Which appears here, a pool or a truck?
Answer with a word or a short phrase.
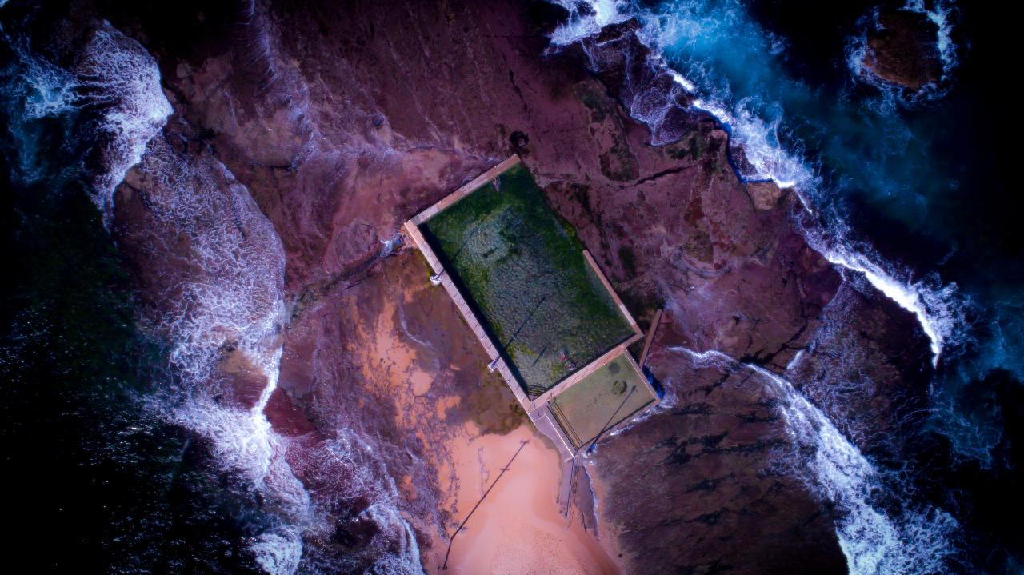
pool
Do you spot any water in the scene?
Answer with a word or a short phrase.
Yes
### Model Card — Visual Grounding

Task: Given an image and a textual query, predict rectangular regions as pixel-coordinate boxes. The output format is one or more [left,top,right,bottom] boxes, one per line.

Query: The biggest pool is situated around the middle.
[404,156,644,414]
